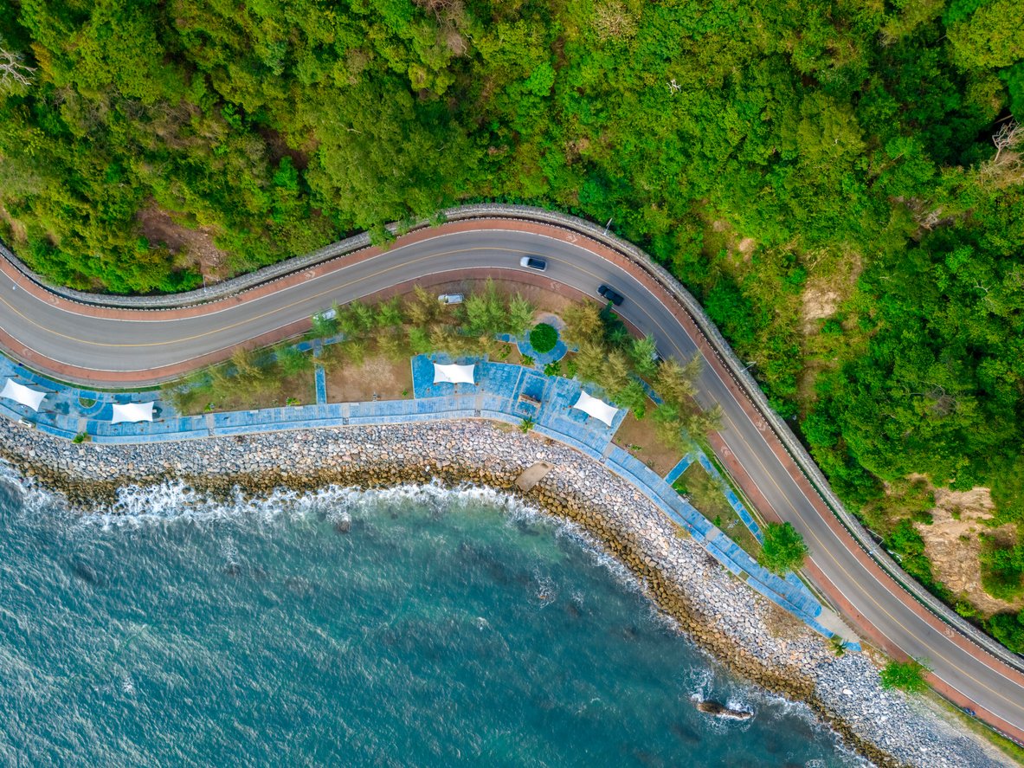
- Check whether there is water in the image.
Yes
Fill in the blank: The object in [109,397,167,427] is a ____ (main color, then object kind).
white tent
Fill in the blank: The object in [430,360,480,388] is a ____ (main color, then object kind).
white tent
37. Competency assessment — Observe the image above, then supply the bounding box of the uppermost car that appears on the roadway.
[520,255,548,271]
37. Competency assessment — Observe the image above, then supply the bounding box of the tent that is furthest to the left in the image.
[0,373,62,416]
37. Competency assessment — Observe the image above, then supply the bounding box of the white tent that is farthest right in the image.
[567,385,623,431]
